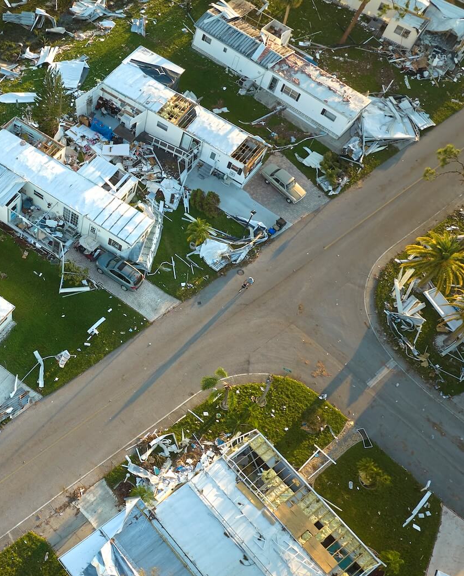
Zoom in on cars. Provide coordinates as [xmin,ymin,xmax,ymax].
[258,164,308,206]
[90,251,147,292]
